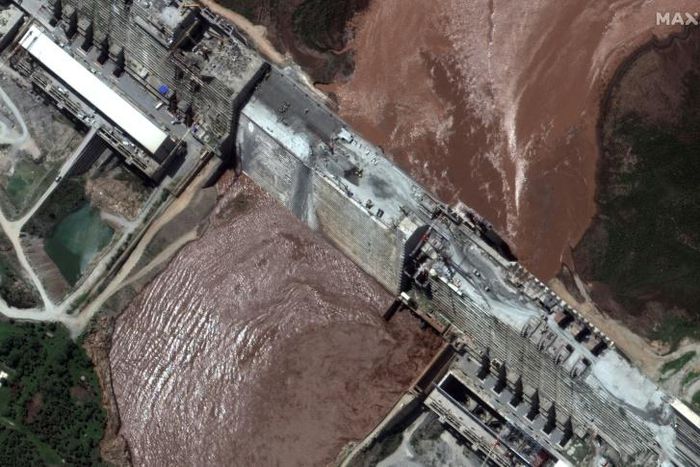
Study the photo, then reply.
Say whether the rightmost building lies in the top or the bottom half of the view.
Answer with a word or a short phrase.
bottom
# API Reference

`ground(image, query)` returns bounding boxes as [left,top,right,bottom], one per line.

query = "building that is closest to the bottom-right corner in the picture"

[649,378,700,427]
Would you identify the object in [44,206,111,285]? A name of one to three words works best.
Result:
pond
